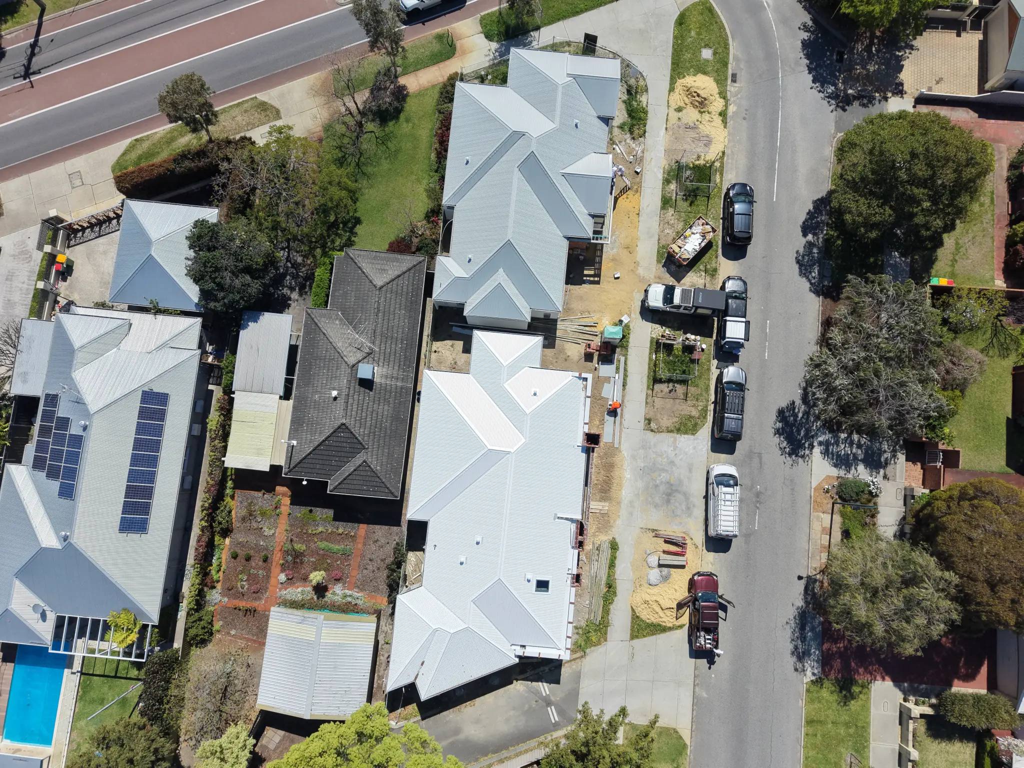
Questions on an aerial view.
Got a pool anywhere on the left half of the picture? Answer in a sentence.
Yes, the scene does show a pool on the left half of the picture.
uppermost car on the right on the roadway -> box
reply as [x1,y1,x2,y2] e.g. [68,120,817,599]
[722,184,758,247]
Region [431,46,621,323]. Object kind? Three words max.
house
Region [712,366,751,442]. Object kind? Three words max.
truck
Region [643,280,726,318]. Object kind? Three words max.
truck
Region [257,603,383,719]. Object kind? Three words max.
shed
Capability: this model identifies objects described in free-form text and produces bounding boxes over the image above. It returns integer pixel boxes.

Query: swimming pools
[1,641,73,747]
